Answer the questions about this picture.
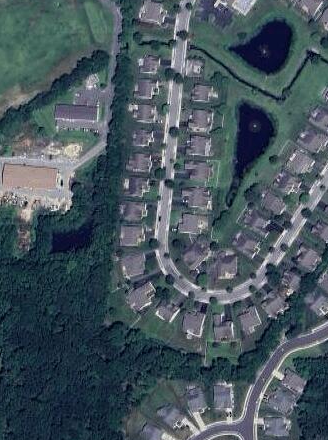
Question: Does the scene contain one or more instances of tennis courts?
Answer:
No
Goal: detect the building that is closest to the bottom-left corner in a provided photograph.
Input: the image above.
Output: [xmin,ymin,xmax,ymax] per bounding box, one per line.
[136,422,168,440]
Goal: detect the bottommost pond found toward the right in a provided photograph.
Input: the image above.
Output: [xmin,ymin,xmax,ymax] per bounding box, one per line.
[233,102,275,182]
